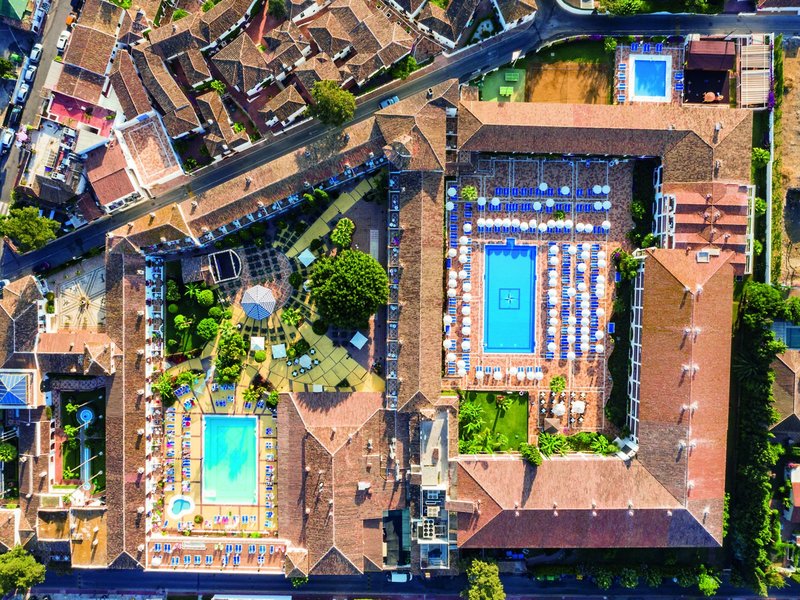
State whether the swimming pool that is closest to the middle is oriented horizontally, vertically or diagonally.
vertically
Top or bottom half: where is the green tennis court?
top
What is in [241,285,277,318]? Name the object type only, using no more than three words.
gazebo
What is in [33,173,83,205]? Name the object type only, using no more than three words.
building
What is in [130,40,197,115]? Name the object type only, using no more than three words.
house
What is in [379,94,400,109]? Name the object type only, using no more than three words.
car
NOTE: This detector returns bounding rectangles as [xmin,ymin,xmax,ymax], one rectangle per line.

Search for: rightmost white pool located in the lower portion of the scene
[166,493,193,516]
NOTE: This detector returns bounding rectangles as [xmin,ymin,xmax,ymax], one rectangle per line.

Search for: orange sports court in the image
[526,62,613,103]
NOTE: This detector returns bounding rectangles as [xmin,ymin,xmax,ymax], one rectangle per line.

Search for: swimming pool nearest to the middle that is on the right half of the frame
[483,237,538,354]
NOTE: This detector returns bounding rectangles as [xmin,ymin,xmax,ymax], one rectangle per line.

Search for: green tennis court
[479,69,525,101]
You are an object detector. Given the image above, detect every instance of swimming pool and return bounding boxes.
[202,415,259,505]
[786,327,800,348]
[166,493,193,516]
[630,55,671,101]
[483,237,538,354]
